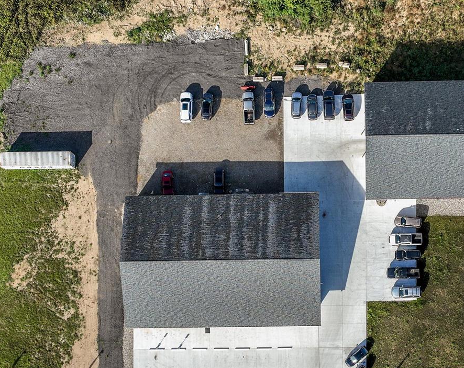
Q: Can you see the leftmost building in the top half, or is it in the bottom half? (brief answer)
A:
bottom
